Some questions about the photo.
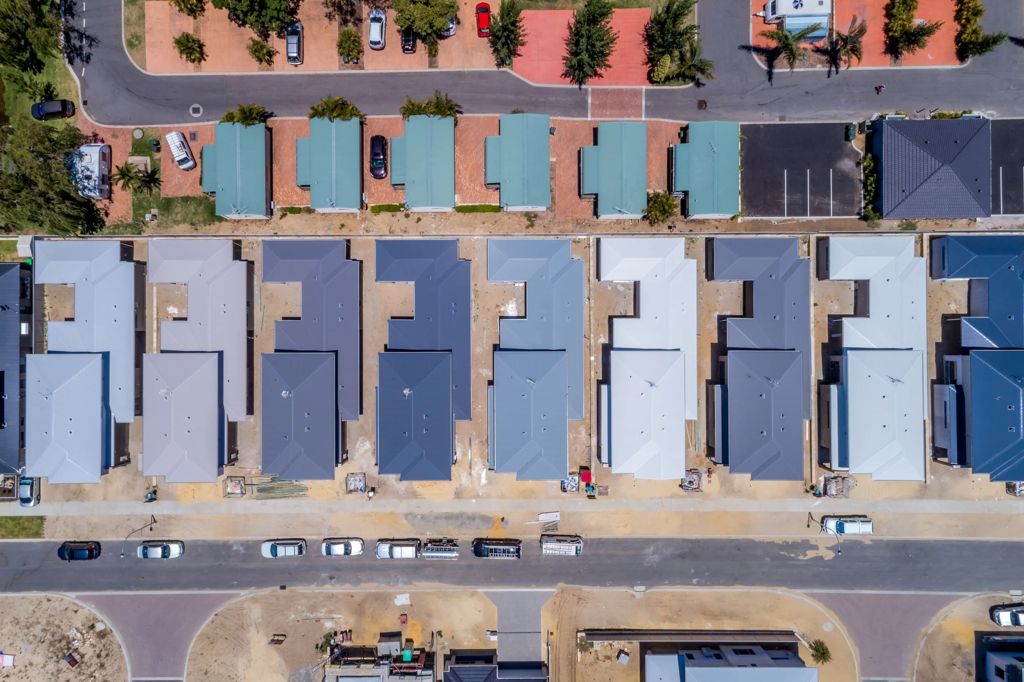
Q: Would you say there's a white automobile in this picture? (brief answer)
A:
Yes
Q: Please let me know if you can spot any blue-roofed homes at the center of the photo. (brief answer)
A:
Yes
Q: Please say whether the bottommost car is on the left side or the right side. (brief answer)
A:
right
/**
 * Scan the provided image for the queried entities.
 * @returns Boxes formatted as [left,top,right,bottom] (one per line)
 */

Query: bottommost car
[989,602,1024,628]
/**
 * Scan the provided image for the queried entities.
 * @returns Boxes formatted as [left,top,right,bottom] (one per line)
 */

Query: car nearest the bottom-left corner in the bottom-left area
[58,541,103,562]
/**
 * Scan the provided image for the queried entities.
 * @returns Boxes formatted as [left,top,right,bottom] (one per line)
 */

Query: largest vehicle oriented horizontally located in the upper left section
[30,99,78,122]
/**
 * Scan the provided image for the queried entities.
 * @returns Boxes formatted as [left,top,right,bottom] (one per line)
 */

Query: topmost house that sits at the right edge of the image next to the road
[876,119,992,220]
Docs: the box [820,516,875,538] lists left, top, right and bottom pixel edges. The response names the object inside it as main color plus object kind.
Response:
white truck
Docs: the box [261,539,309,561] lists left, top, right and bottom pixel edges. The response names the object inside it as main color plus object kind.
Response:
white car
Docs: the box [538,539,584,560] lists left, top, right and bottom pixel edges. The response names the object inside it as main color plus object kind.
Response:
white vehicle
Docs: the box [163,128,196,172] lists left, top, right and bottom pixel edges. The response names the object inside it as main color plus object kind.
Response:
white van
